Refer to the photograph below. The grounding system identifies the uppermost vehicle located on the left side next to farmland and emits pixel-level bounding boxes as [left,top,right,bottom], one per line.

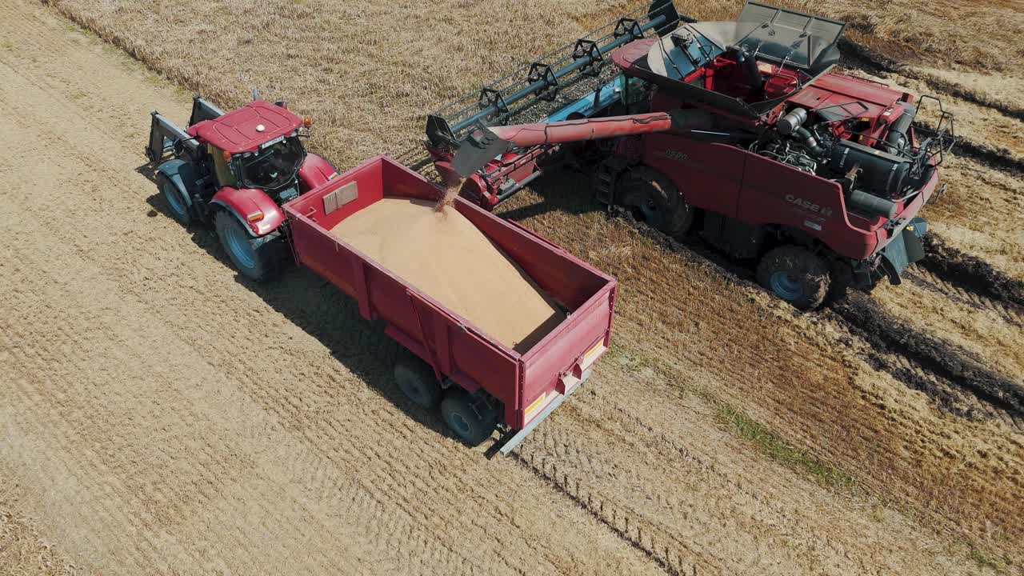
[150,91,336,282]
